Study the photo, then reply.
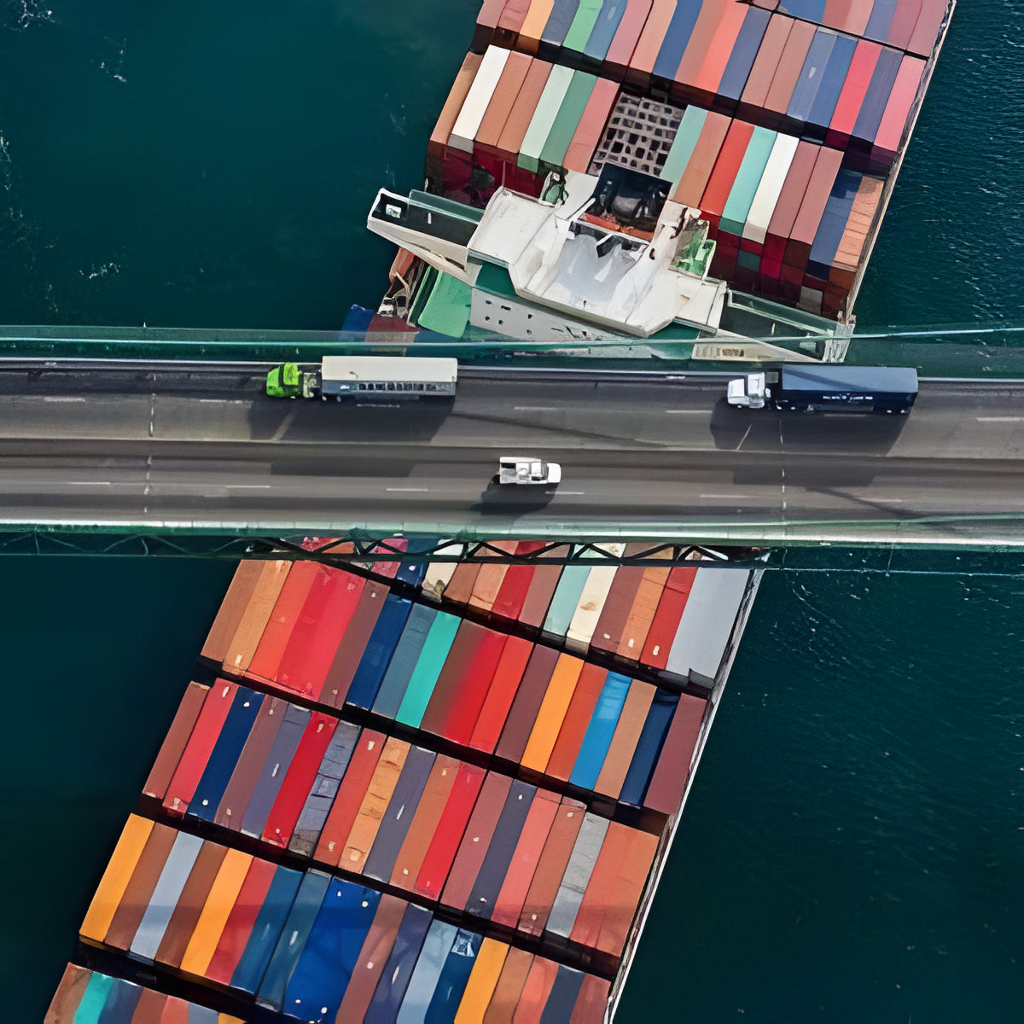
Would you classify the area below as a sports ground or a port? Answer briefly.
port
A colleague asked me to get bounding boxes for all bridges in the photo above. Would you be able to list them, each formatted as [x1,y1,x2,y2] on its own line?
[0,326,1024,579]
